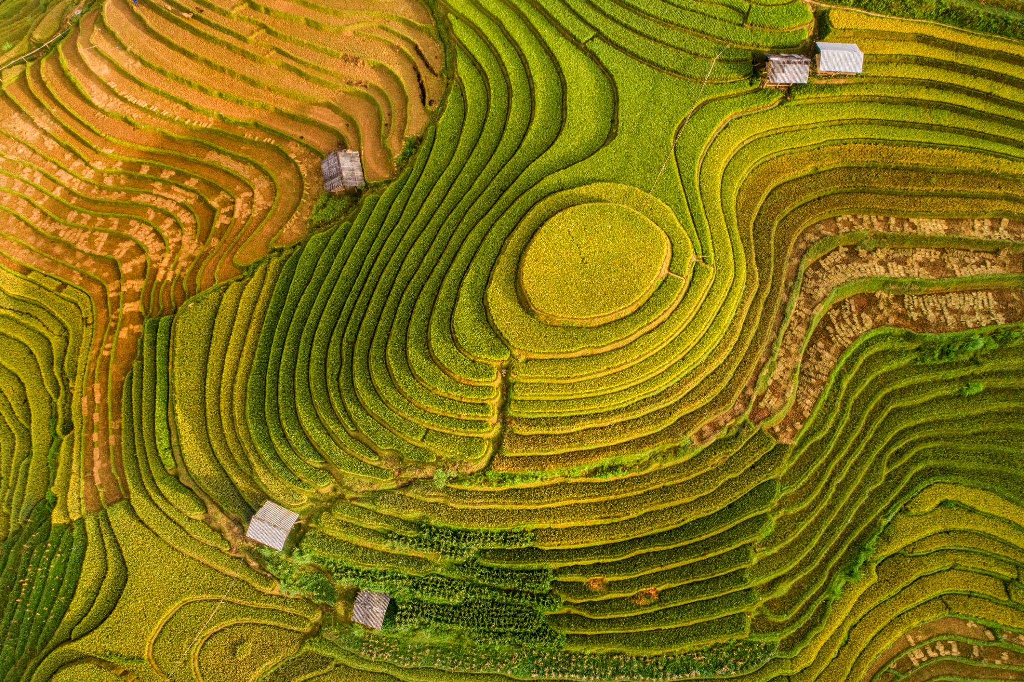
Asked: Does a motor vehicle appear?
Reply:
No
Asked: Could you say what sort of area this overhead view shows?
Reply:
farmland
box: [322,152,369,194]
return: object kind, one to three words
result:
shed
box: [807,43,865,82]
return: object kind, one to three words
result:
shed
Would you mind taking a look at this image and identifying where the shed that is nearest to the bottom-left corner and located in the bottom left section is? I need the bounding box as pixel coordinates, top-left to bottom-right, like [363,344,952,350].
[249,500,297,550]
